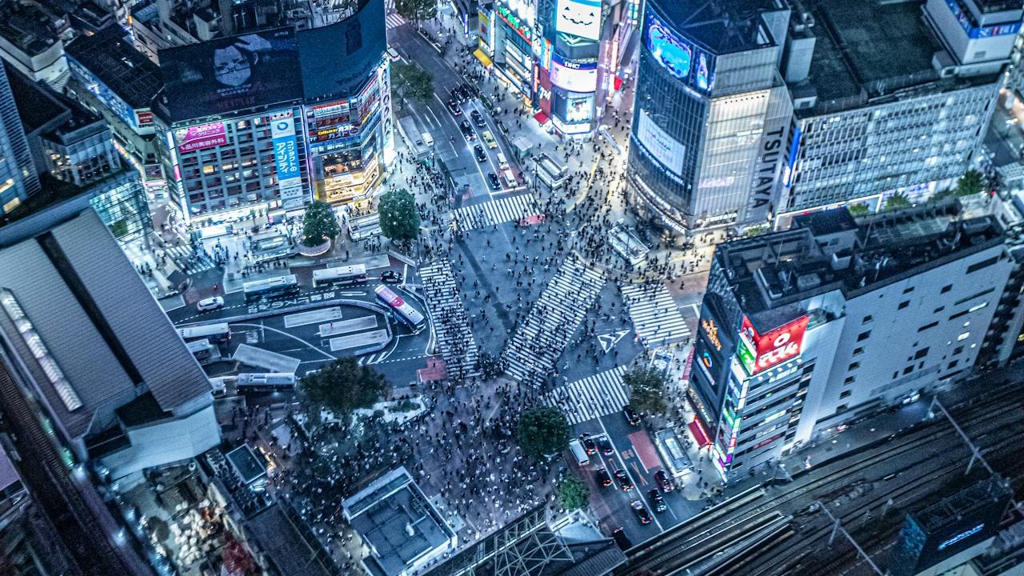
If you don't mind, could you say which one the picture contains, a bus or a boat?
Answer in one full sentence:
There is a bus in the scene.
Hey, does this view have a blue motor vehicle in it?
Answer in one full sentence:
Yes, there is a blue motor vehicle in the image.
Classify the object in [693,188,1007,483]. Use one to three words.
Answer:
building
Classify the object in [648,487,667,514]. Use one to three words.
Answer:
car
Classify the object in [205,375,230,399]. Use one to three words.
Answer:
bus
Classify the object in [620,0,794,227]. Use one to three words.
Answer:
building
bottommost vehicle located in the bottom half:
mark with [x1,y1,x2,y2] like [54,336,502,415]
[611,524,633,548]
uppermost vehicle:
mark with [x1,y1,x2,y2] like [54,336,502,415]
[387,45,401,62]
